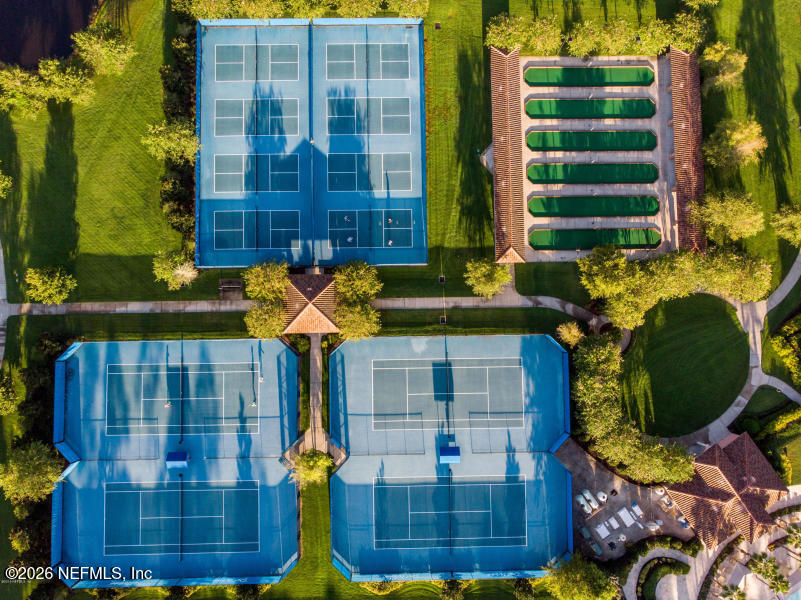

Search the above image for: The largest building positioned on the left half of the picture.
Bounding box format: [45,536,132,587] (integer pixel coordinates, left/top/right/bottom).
[283,274,339,334]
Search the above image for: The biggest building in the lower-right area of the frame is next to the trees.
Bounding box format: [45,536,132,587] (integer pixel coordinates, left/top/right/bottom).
[666,431,789,550]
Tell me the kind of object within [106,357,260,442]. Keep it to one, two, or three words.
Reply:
tennis court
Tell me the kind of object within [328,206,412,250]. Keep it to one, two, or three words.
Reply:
sports court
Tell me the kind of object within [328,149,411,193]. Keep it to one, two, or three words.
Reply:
sports court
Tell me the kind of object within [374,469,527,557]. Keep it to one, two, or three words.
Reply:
tennis court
